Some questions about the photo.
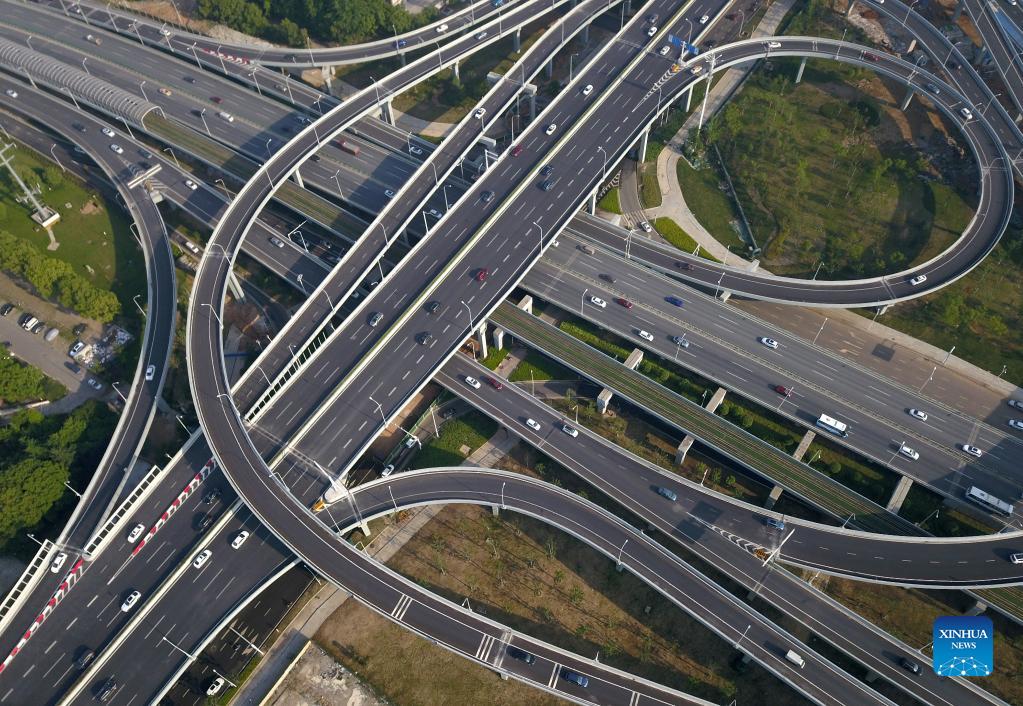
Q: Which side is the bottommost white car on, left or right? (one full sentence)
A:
It is on the left.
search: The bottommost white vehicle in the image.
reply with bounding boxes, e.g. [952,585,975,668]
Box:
[206,676,226,698]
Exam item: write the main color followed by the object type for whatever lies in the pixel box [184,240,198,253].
white vehicle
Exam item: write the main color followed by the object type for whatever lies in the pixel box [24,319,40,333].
white vehicle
